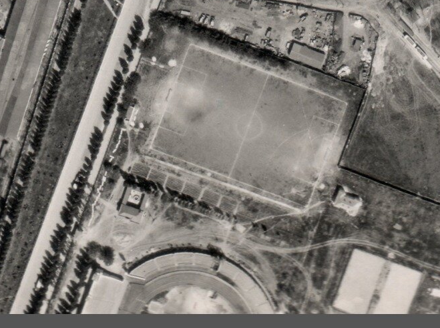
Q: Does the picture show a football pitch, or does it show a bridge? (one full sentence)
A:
Of the two, only a football pitch appears.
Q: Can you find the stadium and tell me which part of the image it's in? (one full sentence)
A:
The stadium appears toward the bottom of the photo.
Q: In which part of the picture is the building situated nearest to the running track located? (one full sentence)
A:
Look in the bottom left portion of the view to spot the building situated nearest to the running track.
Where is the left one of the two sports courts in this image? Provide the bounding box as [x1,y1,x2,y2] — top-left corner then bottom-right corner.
[333,249,386,319]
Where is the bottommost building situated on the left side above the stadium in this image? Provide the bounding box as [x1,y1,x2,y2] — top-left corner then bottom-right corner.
[119,185,145,216]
